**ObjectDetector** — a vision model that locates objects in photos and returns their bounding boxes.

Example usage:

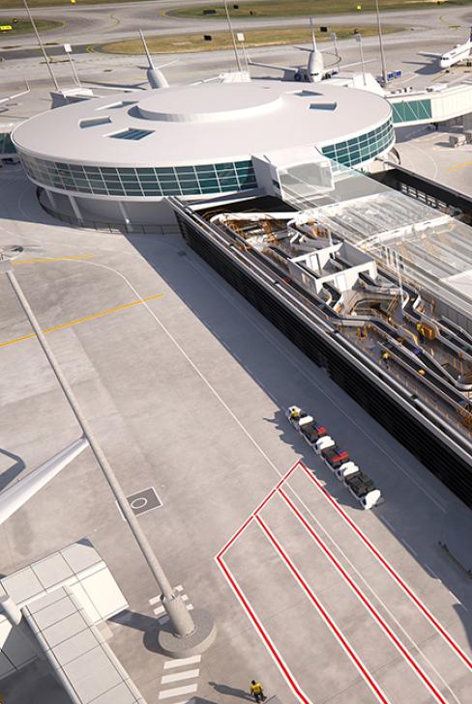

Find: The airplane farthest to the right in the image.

[422,24,472,70]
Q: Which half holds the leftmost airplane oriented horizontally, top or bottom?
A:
top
